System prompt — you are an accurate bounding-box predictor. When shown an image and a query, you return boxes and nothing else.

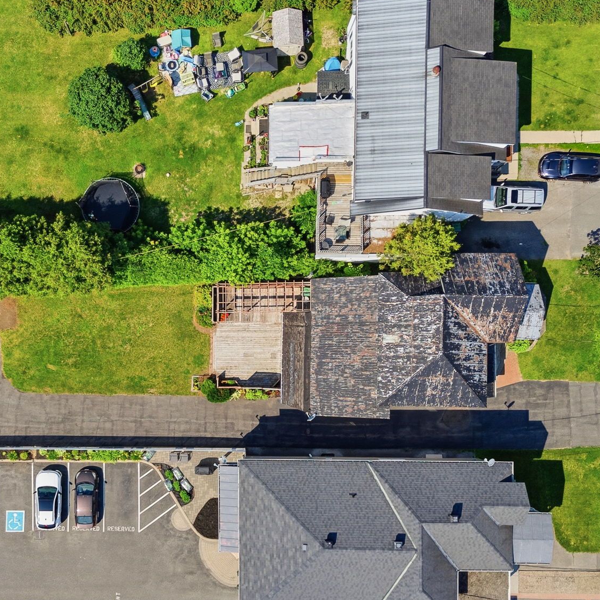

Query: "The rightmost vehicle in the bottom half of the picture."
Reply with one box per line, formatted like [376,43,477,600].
[71,468,101,530]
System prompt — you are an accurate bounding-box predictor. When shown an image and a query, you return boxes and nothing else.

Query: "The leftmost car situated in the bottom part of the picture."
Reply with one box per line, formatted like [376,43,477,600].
[32,468,62,529]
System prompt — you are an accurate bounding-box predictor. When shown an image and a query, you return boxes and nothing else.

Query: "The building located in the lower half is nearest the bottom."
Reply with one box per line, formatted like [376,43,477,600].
[219,453,554,600]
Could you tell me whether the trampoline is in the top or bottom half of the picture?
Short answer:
top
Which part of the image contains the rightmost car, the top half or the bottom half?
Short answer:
top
